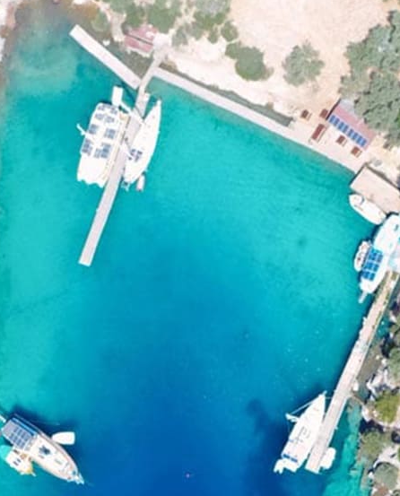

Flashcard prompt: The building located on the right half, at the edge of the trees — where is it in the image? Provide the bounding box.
[327,96,376,148]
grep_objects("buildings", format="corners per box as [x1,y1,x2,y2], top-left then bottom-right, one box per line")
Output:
[327,96,376,148]
[125,24,159,61]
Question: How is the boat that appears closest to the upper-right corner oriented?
on a diagonal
